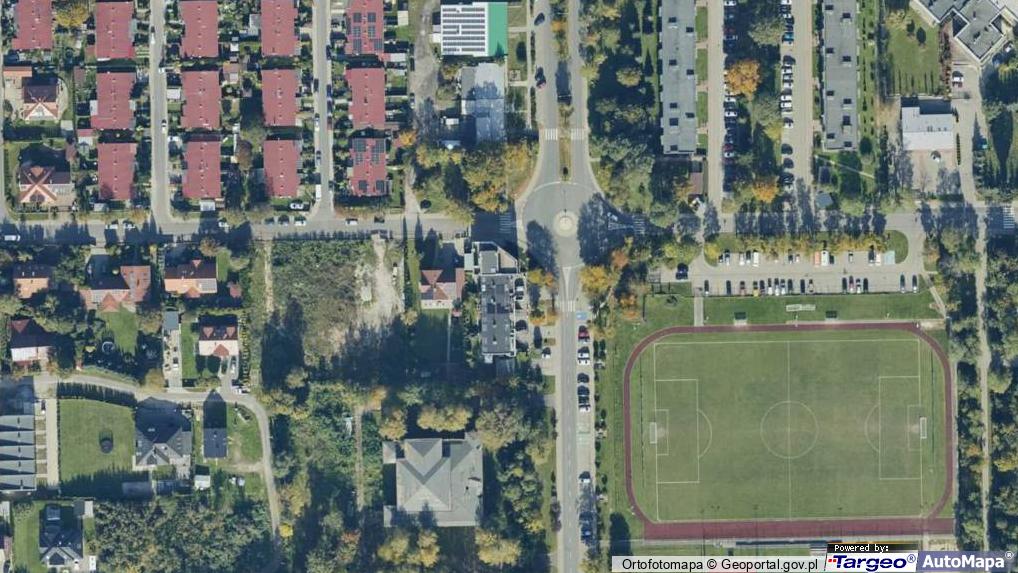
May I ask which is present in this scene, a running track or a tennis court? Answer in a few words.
running track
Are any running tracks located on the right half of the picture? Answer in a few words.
Yes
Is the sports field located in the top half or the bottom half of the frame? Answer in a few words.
bottom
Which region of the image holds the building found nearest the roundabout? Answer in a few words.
center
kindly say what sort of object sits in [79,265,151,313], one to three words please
house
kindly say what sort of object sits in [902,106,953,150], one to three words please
building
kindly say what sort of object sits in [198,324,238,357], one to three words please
house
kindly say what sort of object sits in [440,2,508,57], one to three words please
building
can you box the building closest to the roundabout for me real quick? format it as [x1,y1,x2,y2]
[465,243,517,373]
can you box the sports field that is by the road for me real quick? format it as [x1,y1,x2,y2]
[650,335,926,521]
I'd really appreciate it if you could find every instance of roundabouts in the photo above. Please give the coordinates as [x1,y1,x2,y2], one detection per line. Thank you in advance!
[524,181,623,270]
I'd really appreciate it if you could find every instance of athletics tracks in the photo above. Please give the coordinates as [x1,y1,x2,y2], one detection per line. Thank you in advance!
[623,322,954,541]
